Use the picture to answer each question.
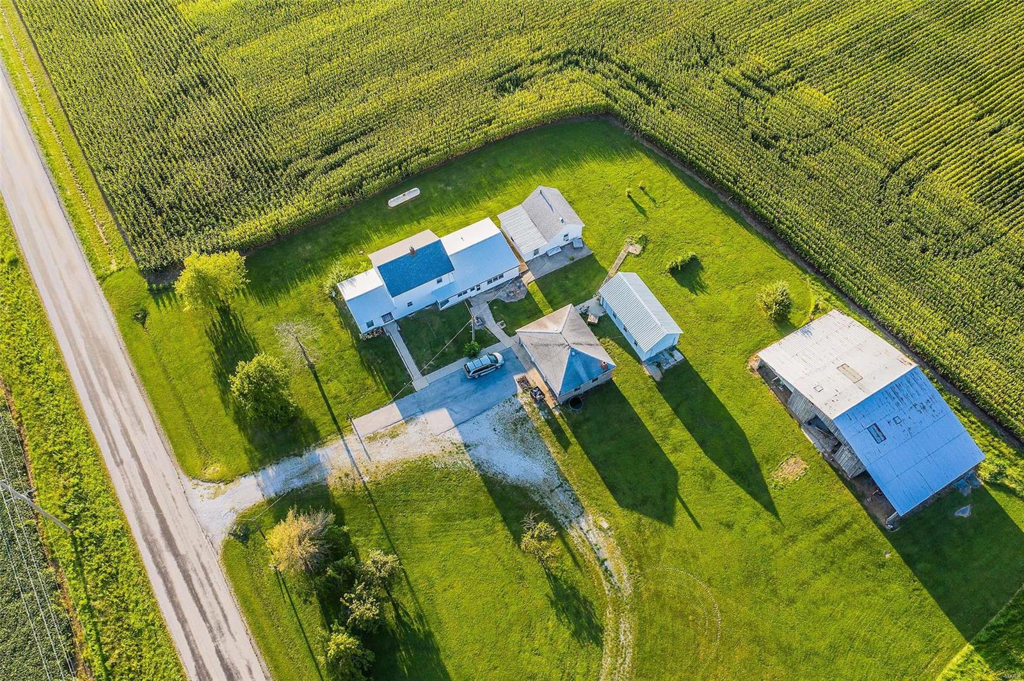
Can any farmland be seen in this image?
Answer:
Yes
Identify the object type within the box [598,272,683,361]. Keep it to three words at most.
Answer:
shed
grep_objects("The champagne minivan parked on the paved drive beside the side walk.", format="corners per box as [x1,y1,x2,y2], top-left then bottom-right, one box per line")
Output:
[461,348,507,378]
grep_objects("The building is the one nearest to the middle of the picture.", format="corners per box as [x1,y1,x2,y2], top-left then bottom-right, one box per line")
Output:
[515,303,617,402]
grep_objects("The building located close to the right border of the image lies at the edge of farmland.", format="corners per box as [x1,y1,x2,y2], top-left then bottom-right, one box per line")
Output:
[757,307,979,530]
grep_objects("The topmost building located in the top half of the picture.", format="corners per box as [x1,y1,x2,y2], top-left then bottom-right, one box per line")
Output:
[497,184,585,263]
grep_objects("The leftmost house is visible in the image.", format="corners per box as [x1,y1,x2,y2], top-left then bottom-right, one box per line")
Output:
[335,217,520,333]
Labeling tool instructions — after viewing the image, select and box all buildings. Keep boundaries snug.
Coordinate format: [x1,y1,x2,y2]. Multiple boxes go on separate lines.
[335,217,520,333]
[497,184,585,263]
[598,272,683,361]
[757,307,979,530]
[515,303,617,402]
